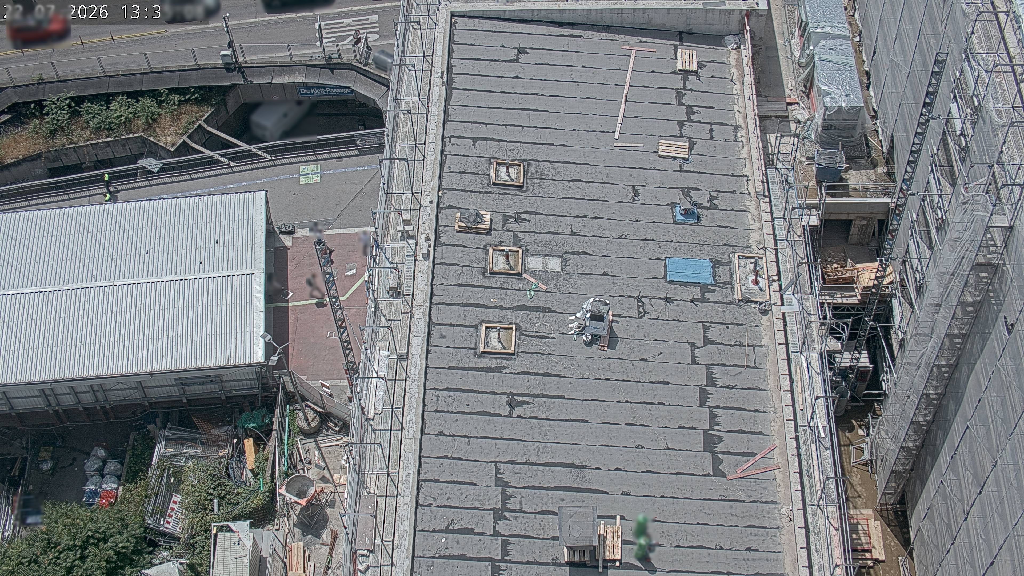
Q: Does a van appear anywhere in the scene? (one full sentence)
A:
Yes, I can see a van in this picture.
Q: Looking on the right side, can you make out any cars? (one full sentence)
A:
No, no car is visible on the right side.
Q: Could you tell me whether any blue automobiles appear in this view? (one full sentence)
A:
No, I can't see a single blue automobile in this photo.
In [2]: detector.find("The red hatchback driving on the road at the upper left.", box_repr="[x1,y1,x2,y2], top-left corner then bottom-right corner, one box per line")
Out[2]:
[2,12,71,49]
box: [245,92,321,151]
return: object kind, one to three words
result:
van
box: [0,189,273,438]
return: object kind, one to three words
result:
building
